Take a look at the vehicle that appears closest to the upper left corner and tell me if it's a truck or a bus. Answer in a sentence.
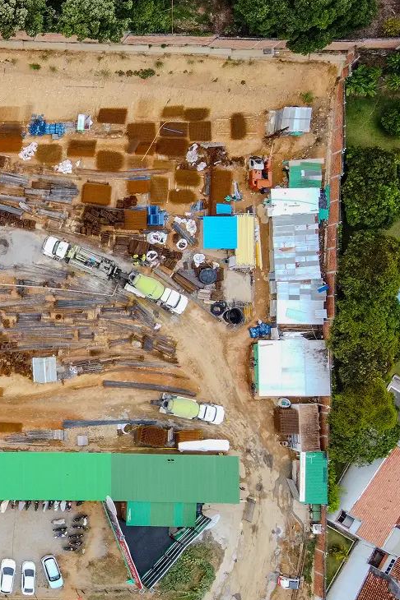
I'd identify the vehicle that appears closest to the upper left corner as a truck.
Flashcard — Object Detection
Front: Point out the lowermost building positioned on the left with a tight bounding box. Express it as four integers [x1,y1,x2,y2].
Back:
[0,453,241,526]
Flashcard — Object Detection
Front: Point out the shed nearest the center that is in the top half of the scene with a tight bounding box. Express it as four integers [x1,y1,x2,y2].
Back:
[195,216,238,250]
